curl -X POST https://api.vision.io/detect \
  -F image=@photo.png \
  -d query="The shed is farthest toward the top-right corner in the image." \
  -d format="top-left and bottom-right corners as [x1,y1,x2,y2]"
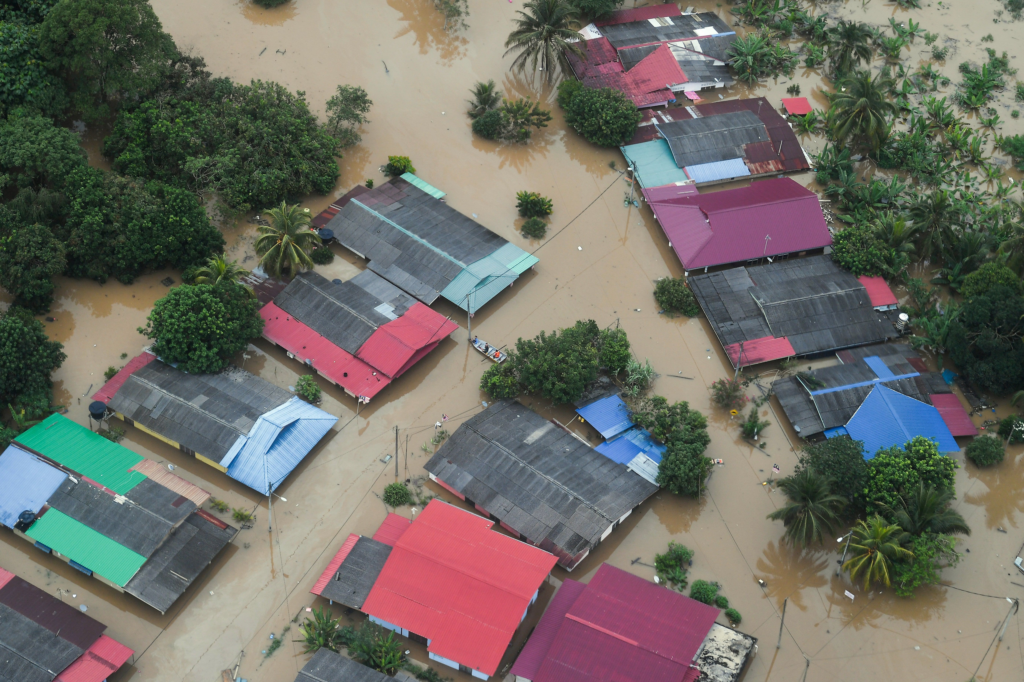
[781,98,810,122]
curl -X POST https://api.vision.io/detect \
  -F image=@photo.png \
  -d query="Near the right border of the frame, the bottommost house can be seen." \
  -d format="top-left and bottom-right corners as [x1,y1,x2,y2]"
[771,343,978,467]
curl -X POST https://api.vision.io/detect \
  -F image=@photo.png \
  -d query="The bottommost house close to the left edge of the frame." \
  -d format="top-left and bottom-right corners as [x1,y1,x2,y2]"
[0,567,135,682]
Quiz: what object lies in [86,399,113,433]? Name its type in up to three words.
water tank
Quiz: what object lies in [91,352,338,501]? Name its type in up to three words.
house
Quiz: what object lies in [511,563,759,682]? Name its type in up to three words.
house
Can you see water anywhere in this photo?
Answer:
Yes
